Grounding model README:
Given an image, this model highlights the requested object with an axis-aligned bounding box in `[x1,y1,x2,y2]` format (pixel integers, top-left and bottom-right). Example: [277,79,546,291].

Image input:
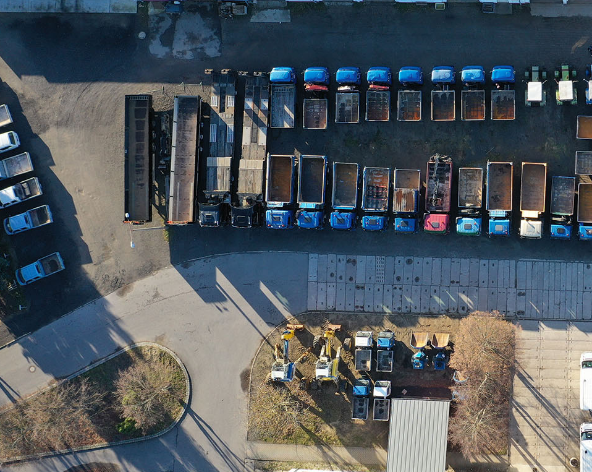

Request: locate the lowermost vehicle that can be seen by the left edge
[16,253,68,285]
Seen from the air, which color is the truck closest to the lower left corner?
blue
